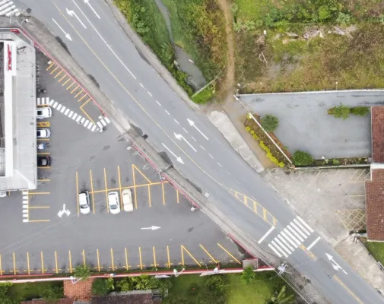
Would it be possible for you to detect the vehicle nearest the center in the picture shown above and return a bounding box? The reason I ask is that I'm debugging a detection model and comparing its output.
[122,189,135,211]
